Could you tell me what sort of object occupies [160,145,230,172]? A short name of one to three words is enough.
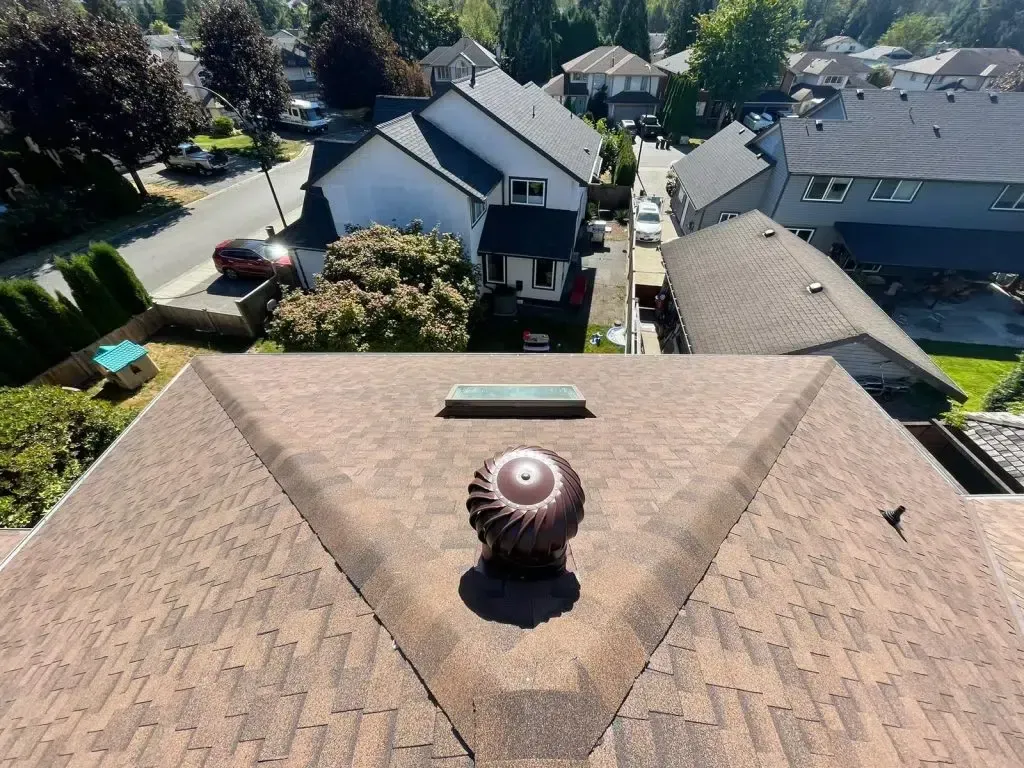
truck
